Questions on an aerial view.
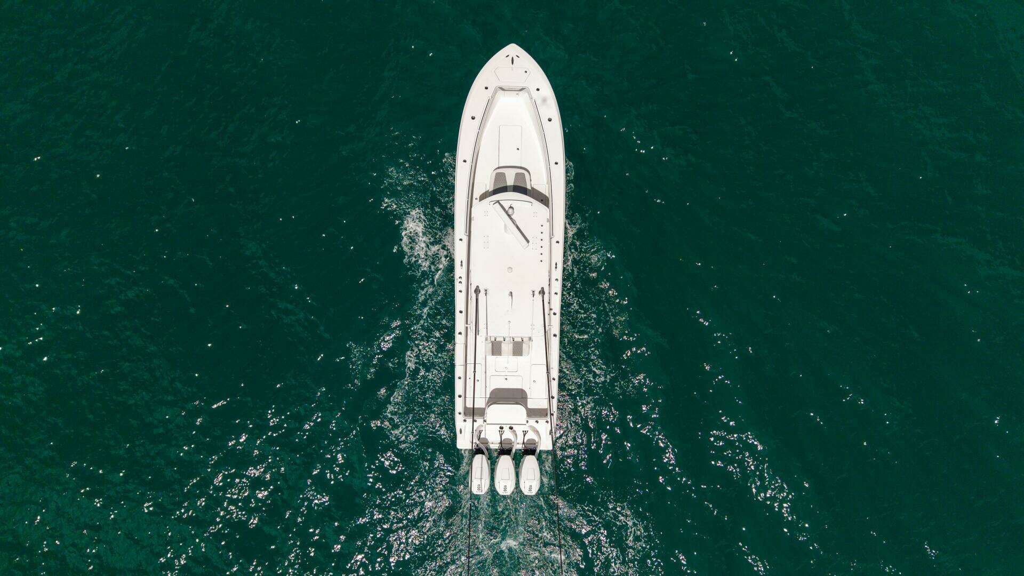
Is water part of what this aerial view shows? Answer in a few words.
Yes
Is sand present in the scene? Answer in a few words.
No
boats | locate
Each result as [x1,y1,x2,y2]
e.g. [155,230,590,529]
[454,43,565,576]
